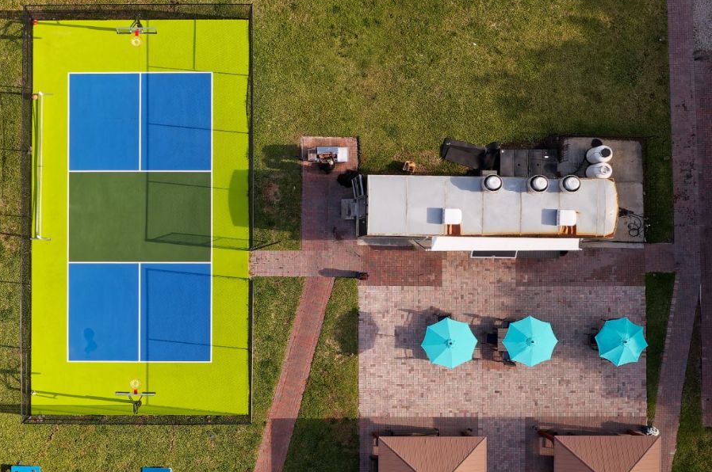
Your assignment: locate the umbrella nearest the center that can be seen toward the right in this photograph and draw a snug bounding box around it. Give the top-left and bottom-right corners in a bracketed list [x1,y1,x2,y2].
[419,313,478,371]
